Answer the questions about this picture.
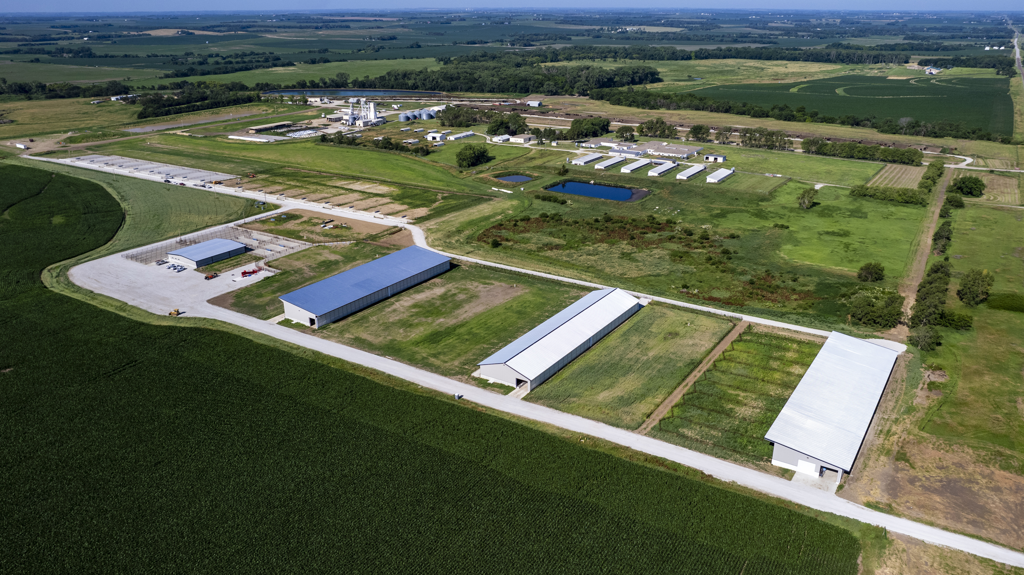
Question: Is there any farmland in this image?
Yes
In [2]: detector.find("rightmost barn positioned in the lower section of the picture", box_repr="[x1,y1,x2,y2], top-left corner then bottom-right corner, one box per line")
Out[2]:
[765,327,901,484]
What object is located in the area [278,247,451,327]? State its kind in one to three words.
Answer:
barn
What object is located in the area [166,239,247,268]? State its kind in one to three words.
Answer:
barn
